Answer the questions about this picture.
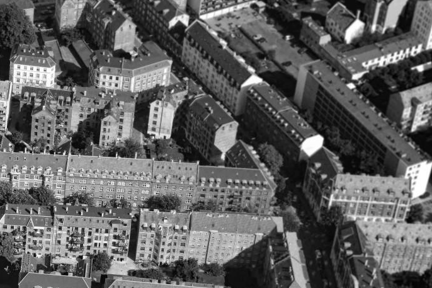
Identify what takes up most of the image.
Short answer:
buildings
